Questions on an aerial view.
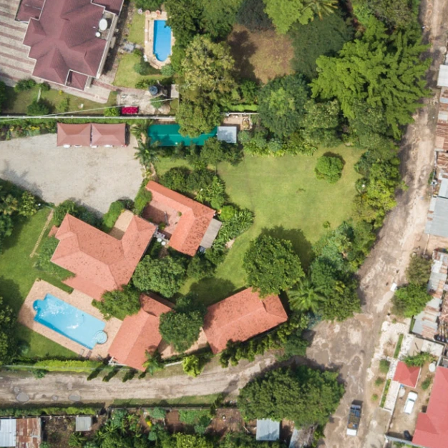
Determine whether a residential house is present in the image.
Yes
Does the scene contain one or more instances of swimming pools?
Yes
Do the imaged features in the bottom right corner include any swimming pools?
No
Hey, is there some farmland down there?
No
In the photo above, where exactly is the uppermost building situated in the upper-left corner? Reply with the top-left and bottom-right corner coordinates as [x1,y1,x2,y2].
[14,0,127,91]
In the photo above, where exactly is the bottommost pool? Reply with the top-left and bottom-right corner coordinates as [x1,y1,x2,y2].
[29,292,108,353]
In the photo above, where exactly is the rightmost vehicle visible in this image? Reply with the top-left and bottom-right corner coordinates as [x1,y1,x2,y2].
[403,390,419,414]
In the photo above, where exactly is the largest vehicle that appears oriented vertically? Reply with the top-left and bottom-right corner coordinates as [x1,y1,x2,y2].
[345,400,361,434]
